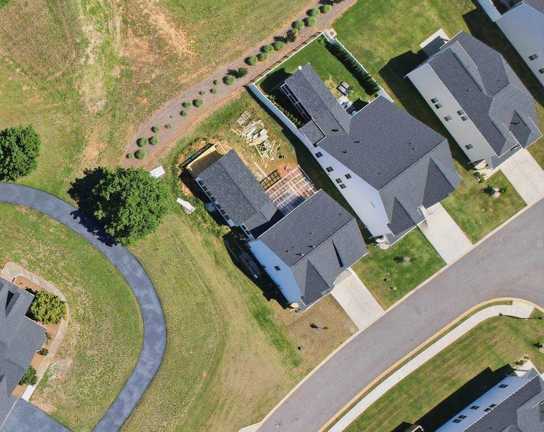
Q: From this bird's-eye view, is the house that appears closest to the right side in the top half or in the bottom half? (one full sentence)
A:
Seen from above, the house that appears closest to the right side lies in the top half of the view.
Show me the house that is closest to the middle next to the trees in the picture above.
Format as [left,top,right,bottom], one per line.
[194,150,368,312]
